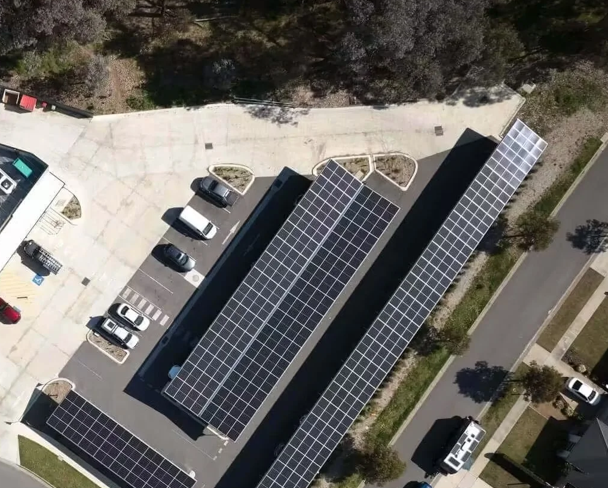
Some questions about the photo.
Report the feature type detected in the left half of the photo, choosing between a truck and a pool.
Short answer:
truck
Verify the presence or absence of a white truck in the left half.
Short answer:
Yes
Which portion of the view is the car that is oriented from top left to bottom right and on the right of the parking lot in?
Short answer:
bottom right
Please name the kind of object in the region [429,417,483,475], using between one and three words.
camper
